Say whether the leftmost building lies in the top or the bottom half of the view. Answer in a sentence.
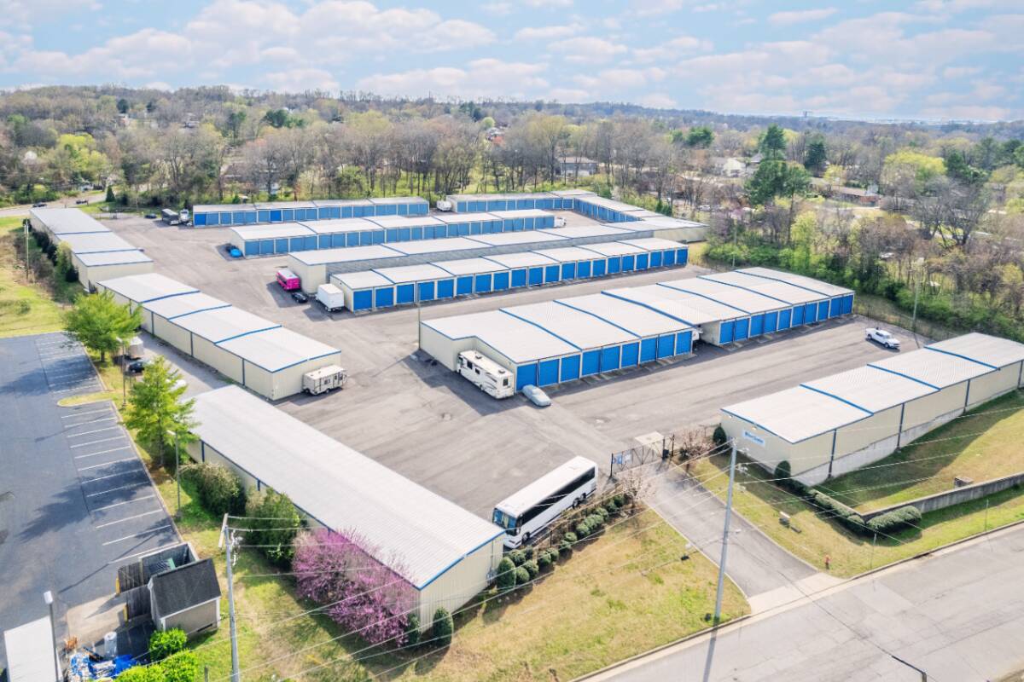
Seen from above, the leftmost building lies in the bottom half of the view.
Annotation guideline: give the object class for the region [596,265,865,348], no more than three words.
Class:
building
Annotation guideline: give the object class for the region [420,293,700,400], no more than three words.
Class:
building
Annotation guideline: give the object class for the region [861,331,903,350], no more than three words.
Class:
vehicle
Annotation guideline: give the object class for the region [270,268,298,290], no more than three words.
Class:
bus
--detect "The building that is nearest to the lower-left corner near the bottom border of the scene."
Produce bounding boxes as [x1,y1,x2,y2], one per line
[1,616,61,682]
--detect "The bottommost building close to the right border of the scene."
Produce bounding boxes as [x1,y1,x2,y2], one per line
[720,334,1024,484]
